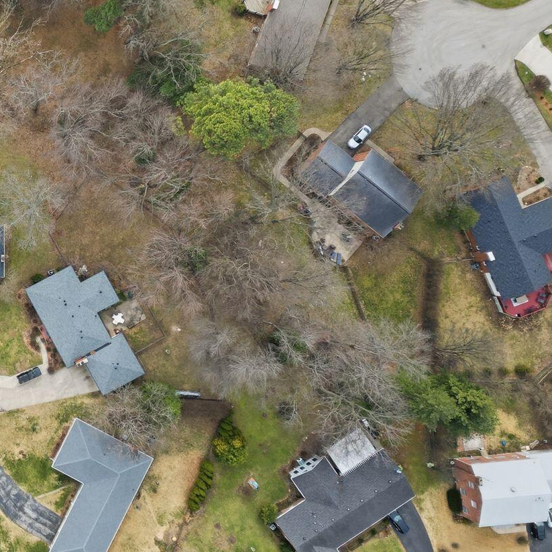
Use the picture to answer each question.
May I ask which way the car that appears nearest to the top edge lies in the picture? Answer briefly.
diagonally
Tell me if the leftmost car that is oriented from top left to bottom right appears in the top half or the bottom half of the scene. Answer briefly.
bottom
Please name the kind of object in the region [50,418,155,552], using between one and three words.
house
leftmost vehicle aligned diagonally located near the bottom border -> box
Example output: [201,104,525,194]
[388,510,412,537]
